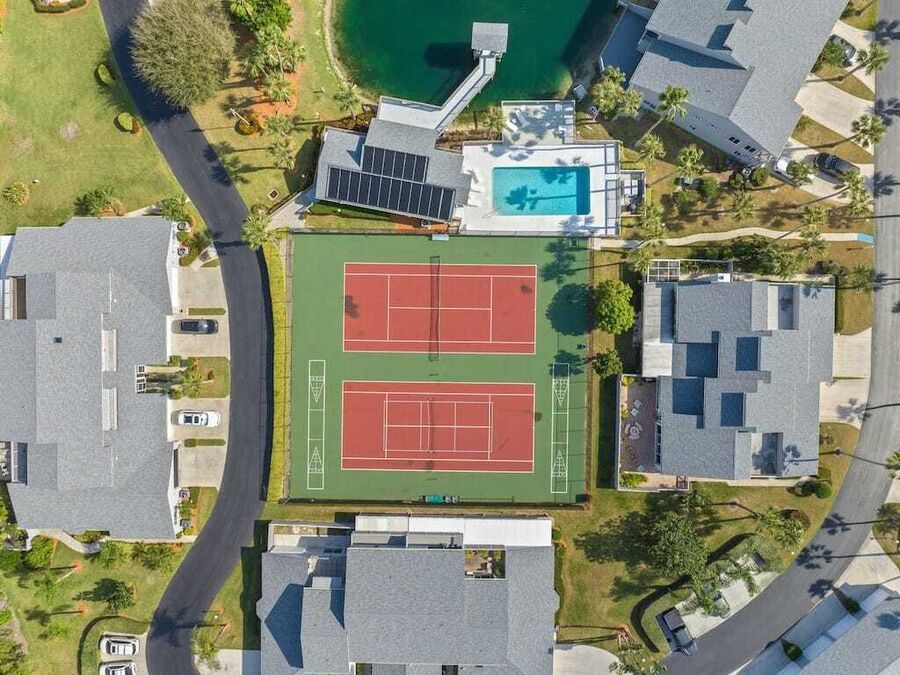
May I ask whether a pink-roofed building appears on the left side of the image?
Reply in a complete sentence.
No, on the left side of the image there is no pink-roofed building.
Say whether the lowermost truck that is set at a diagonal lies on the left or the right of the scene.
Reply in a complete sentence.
The lowermost truck that is set at a diagonal appears in the right half of the scene.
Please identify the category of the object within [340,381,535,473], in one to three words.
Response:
tennis court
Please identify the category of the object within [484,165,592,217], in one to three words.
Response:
swimming pool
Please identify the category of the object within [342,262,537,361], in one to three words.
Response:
tennis court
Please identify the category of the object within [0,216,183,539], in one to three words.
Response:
building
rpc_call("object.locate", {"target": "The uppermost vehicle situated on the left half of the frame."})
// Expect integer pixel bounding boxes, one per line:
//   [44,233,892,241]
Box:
[175,317,215,336]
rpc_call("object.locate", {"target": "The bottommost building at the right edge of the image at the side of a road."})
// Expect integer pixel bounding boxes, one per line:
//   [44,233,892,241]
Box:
[767,579,900,675]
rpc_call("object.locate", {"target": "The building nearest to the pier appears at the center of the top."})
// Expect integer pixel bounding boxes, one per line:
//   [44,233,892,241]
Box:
[316,119,471,223]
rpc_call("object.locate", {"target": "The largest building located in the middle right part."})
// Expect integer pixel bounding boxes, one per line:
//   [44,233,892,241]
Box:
[618,260,833,495]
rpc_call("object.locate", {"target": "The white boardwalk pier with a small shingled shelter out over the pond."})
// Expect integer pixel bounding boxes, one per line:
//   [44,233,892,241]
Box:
[376,22,509,130]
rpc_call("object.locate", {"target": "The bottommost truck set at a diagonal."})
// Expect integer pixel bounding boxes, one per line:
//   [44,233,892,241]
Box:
[658,602,694,650]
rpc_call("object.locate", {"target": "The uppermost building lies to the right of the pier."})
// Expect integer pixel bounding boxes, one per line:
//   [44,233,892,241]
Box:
[601,0,849,169]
